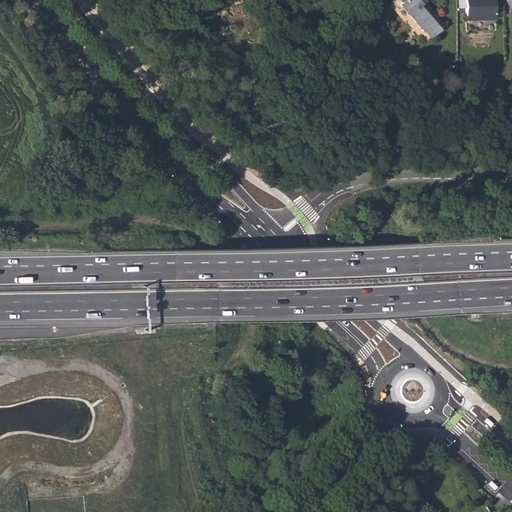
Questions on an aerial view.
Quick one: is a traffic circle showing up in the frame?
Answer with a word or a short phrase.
Yes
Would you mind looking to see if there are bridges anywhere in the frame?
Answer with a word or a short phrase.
Yes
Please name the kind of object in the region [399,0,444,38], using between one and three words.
house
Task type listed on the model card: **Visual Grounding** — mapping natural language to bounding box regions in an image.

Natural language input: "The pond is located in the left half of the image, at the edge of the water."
[0,397,106,440]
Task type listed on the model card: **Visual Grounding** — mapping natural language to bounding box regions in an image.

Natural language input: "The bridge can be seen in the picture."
[171,244,466,324]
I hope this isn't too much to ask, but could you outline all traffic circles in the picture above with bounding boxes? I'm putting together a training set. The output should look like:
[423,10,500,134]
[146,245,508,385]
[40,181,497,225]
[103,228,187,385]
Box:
[372,349,454,432]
